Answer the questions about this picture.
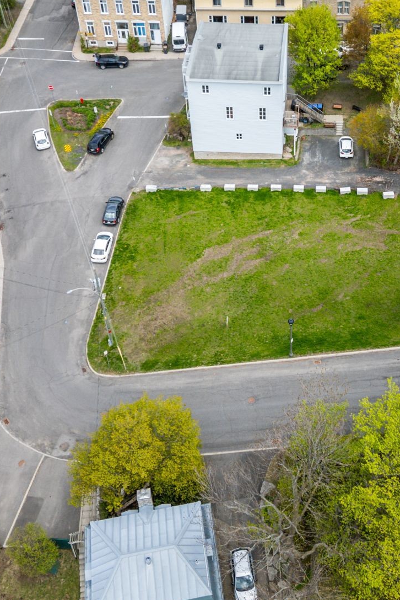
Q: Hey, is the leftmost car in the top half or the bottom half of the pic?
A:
top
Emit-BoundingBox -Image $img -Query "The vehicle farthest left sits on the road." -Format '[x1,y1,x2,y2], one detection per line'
[29,124,51,149]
